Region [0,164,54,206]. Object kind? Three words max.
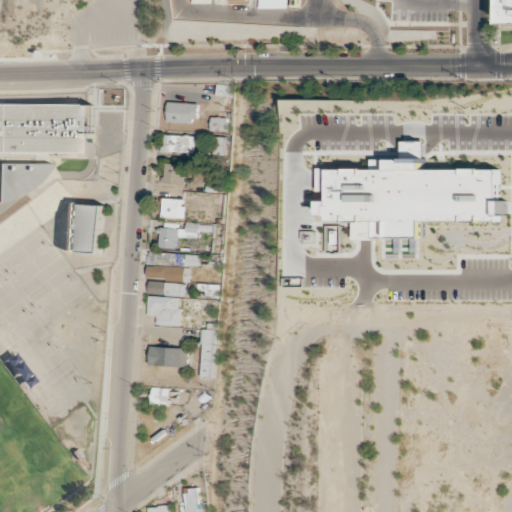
building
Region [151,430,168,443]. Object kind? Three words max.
vehicle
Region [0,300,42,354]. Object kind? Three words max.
basketball court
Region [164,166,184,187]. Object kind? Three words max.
house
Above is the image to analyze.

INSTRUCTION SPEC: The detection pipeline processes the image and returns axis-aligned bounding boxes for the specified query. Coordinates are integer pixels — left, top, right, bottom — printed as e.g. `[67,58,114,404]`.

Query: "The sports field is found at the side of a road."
[0,364,88,512]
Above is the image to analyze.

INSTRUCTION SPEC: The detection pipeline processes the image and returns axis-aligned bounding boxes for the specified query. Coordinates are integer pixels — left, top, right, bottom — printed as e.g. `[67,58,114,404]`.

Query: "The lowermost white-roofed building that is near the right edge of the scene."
[311,141,510,240]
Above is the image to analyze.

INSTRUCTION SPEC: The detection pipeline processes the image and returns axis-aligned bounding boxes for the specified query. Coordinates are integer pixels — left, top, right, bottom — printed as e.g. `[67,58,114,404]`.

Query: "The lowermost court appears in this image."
[22,331,68,376]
